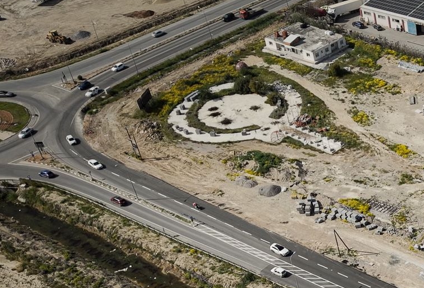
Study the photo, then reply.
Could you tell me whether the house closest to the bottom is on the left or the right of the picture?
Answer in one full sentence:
The house closest to the bottom sits on the right side.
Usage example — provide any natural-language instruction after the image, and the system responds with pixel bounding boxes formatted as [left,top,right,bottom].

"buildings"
[258,23,354,67]
[359,0,424,35]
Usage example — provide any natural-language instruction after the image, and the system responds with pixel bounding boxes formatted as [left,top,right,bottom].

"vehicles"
[352,21,364,28]
[51,30,74,44]
[109,195,129,207]
[88,160,104,169]
[77,82,94,90]
[373,25,383,30]
[271,243,289,256]
[239,9,265,19]
[38,171,55,178]
[111,63,125,71]
[65,136,78,145]
[17,128,35,138]
[327,0,368,17]
[270,268,290,279]
[222,14,236,20]
[0,91,15,98]
[83,87,103,97]
[309,2,327,16]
